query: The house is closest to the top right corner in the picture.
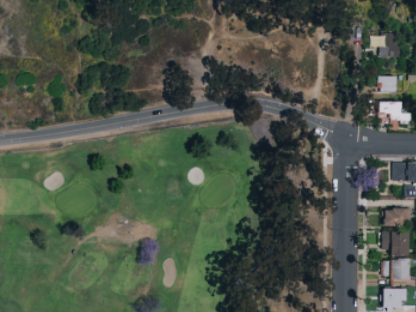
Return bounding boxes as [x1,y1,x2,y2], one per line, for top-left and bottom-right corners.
[366,30,400,56]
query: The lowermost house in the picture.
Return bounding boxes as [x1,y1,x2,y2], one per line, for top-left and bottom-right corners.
[384,288,408,309]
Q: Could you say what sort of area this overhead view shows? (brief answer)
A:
golf course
